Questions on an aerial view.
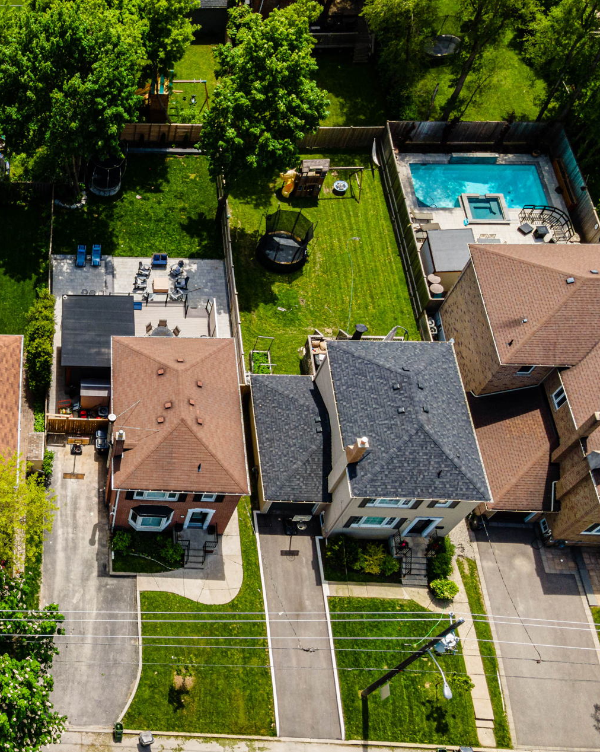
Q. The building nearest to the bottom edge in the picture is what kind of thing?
residential house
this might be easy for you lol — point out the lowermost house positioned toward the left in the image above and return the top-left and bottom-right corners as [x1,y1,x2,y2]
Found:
[126,498,275,737]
